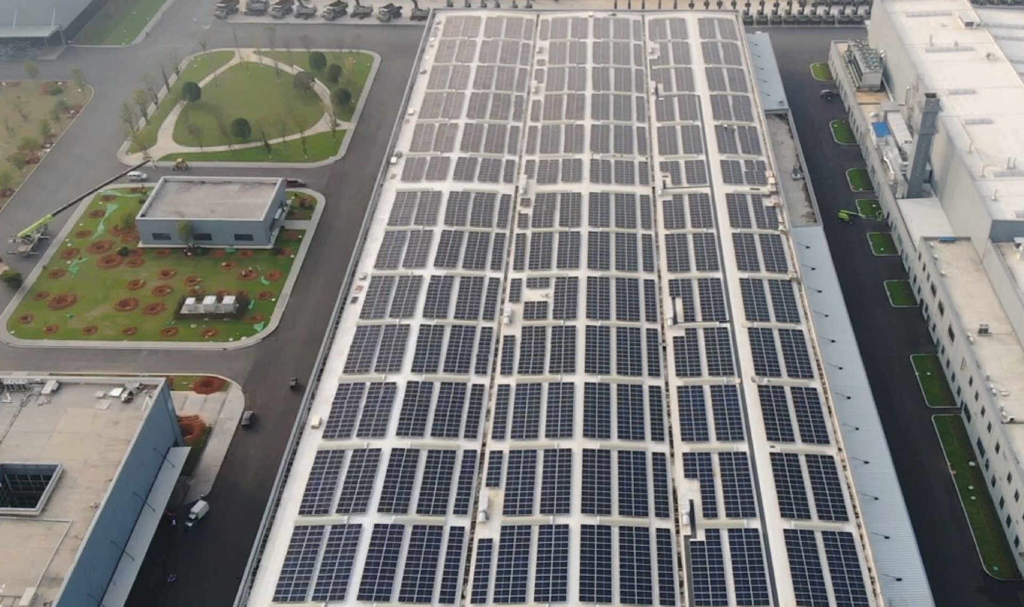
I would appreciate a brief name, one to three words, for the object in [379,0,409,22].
truck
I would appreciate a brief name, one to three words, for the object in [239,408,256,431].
vehicle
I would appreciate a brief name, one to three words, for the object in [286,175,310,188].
vehicle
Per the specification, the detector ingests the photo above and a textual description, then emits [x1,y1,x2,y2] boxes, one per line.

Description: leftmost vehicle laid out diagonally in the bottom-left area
[184,499,210,530]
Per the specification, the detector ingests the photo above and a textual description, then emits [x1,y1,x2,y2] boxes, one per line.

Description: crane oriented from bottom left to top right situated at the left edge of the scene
[7,157,159,256]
